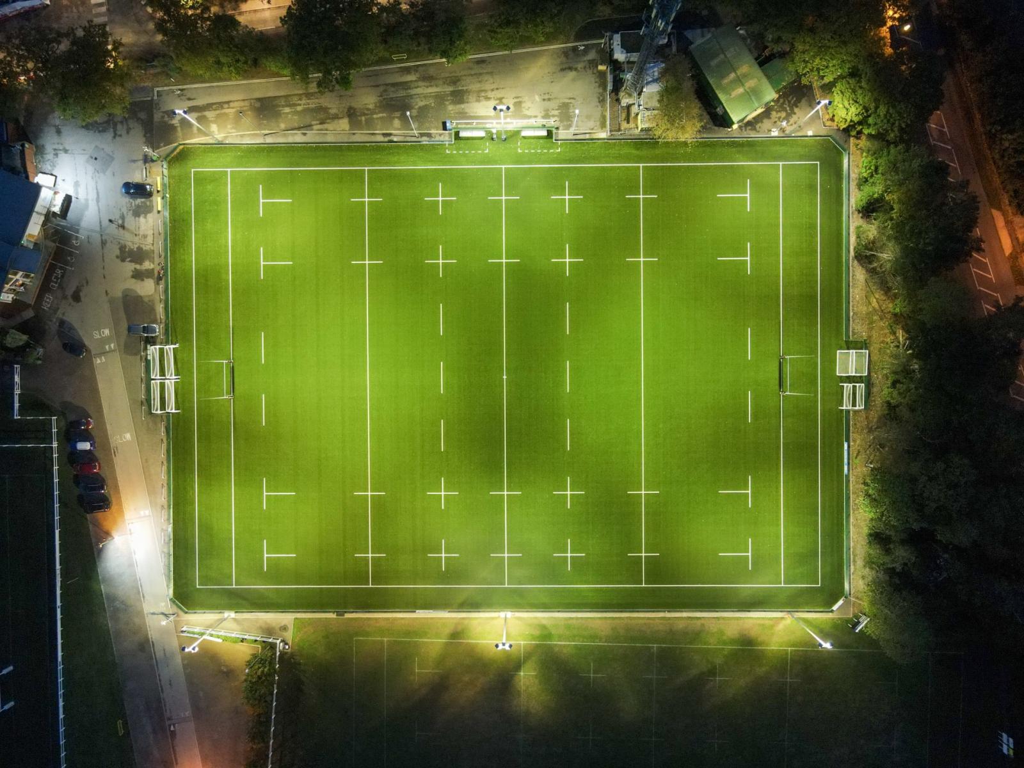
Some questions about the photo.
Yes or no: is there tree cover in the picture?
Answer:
Yes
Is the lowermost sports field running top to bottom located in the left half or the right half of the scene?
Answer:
left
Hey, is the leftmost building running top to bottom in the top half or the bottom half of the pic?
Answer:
top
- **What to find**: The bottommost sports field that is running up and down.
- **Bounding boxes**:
[0,446,63,768]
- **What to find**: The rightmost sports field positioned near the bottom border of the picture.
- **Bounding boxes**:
[272,618,1024,768]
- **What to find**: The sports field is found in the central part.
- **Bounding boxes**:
[153,131,864,612]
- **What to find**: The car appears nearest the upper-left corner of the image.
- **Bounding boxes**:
[120,181,152,196]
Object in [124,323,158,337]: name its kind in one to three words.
car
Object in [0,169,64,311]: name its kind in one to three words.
building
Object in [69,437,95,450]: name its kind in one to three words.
vehicle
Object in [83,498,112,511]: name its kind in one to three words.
vehicle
